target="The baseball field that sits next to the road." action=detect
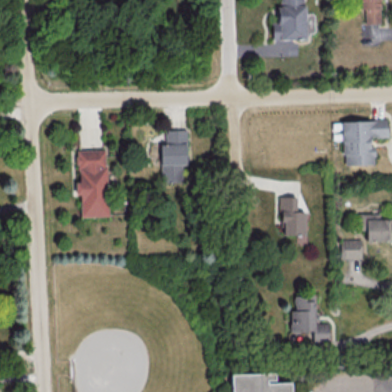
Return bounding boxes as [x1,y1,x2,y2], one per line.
[55,262,206,392]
